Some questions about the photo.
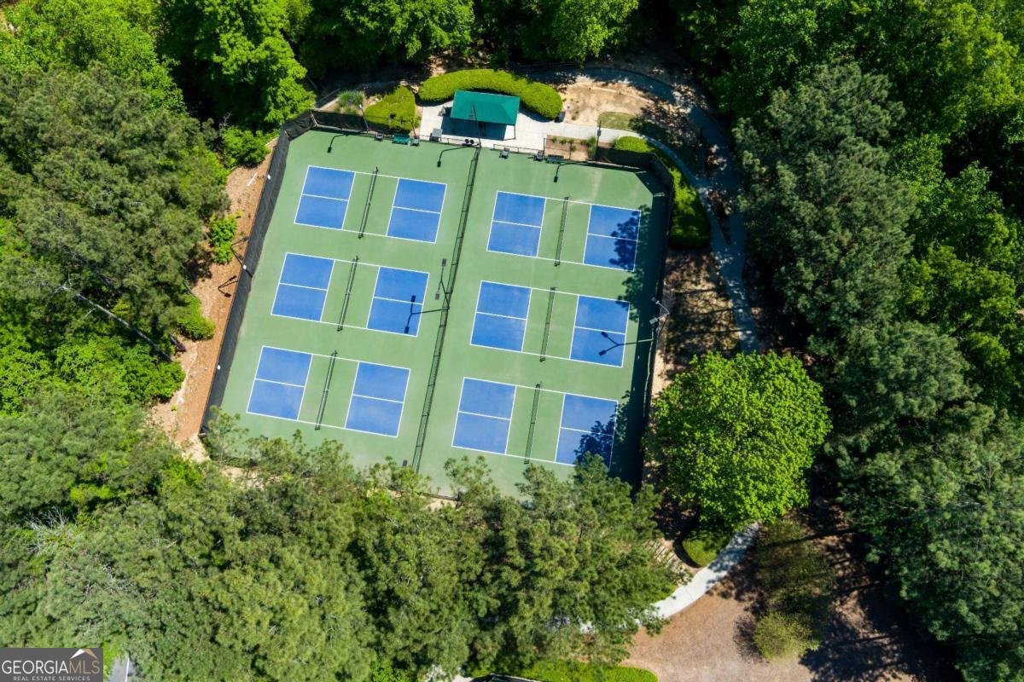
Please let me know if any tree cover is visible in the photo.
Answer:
Yes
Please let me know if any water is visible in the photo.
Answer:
No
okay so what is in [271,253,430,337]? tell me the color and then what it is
blue sports court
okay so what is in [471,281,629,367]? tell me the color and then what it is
blue sports court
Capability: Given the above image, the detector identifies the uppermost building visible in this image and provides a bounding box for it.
[449,89,520,141]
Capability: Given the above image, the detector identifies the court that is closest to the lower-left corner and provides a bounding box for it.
[245,346,411,437]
